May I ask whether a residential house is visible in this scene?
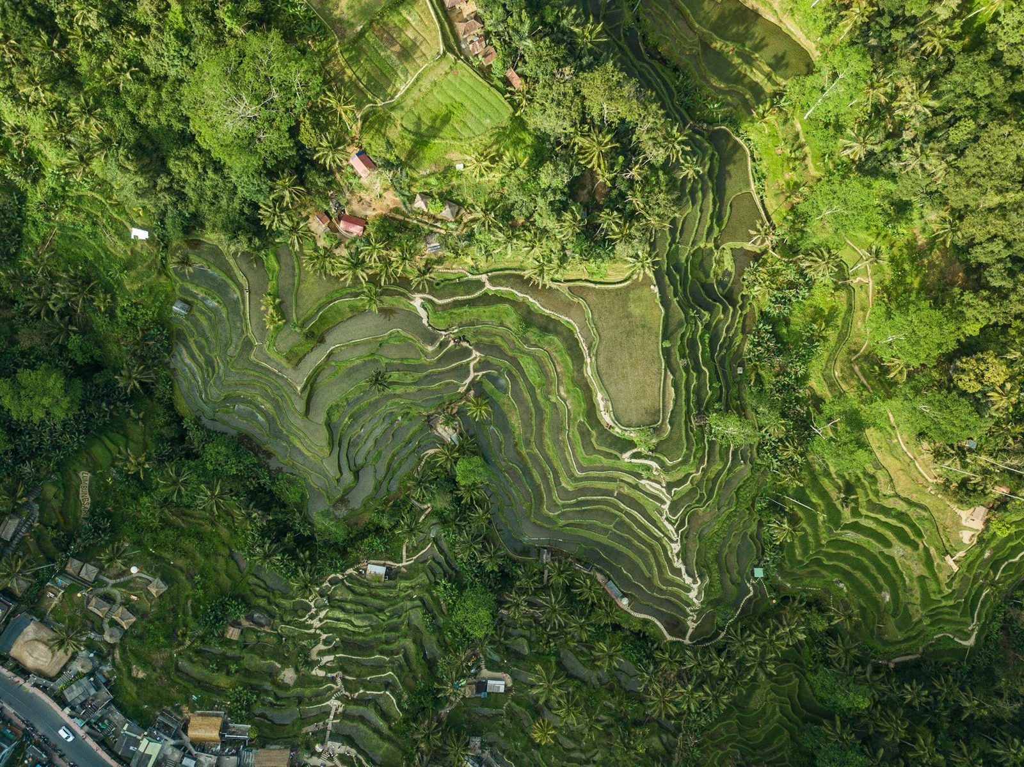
Yes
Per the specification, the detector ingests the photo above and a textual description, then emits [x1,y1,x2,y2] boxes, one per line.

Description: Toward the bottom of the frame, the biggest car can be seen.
[59,725,76,741]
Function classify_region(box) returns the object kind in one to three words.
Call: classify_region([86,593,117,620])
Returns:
house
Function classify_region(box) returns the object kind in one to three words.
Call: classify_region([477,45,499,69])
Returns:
house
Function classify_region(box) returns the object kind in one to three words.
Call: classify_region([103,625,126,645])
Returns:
shed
